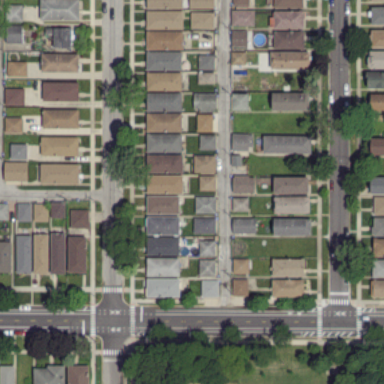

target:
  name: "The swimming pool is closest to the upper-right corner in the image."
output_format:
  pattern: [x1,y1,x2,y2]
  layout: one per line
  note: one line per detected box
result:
[252,32,266,46]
